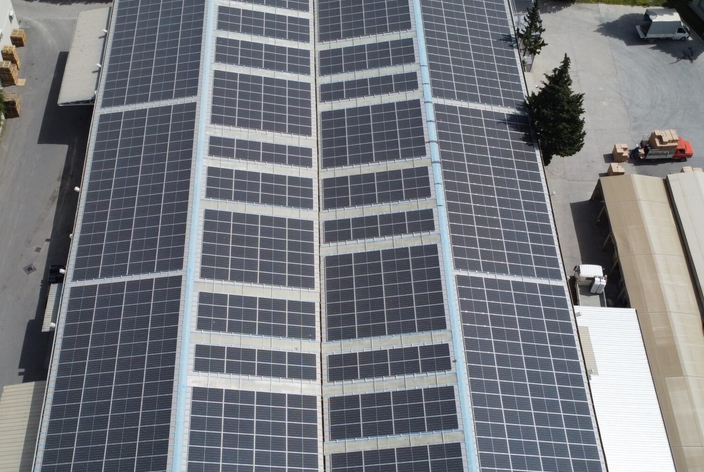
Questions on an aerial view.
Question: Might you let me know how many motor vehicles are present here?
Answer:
3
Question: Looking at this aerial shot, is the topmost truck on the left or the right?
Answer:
right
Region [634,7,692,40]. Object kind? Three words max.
truck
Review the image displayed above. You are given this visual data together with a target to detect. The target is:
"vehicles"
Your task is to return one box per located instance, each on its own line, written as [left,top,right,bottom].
[571,267,608,308]
[632,134,696,164]
[634,7,692,40]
